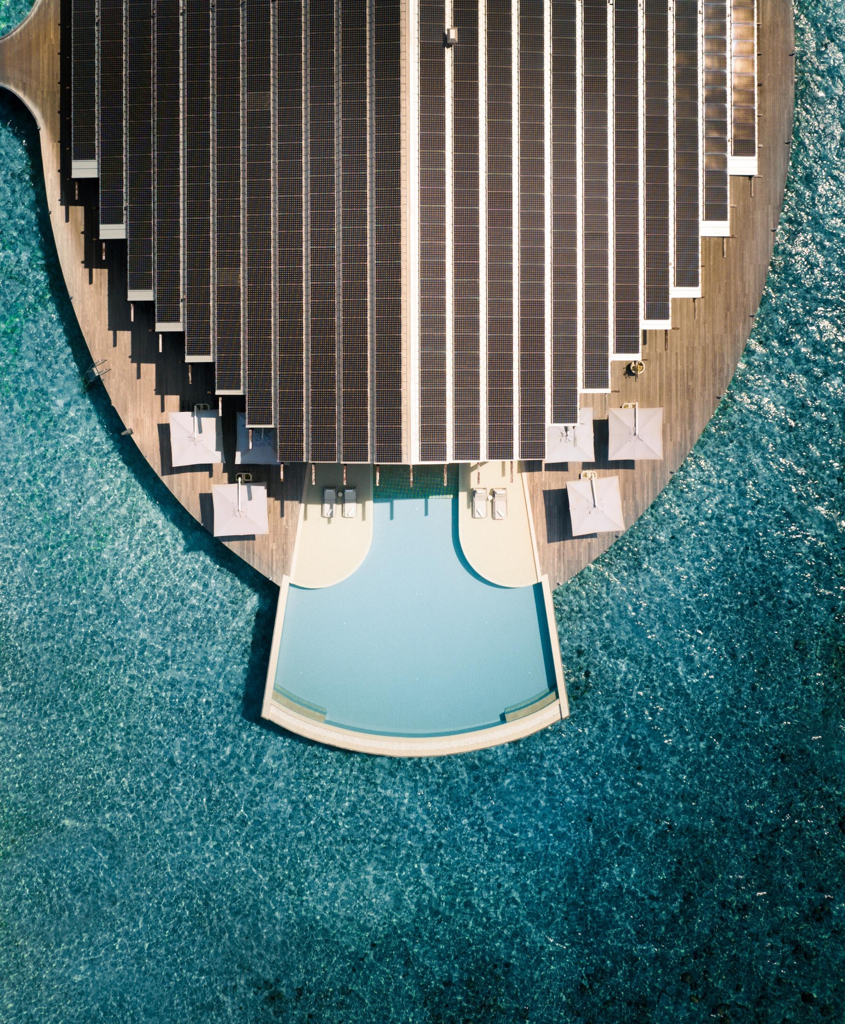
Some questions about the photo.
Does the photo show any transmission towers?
No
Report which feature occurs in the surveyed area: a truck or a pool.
pool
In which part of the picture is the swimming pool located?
center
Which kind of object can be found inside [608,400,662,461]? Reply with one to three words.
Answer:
umbrella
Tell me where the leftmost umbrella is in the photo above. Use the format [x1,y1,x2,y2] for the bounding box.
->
[169,404,226,466]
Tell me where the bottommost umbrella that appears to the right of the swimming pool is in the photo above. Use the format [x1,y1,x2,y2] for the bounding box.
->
[566,470,625,536]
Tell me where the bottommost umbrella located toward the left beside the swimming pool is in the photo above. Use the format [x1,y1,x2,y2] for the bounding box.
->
[214,474,268,536]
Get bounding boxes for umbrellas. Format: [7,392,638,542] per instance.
[566,470,625,536]
[608,400,662,461]
[544,407,596,463]
[214,474,268,536]
[235,411,289,466]
[169,404,226,466]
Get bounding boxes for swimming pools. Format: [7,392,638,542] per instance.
[260,461,571,756]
